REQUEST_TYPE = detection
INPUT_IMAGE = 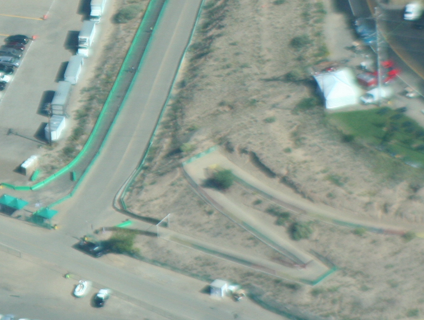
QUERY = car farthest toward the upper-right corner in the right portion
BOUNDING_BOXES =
[404,2,417,20]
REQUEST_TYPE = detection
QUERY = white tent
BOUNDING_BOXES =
[315,70,360,118]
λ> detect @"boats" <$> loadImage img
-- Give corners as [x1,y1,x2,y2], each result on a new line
[74,277,89,300]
